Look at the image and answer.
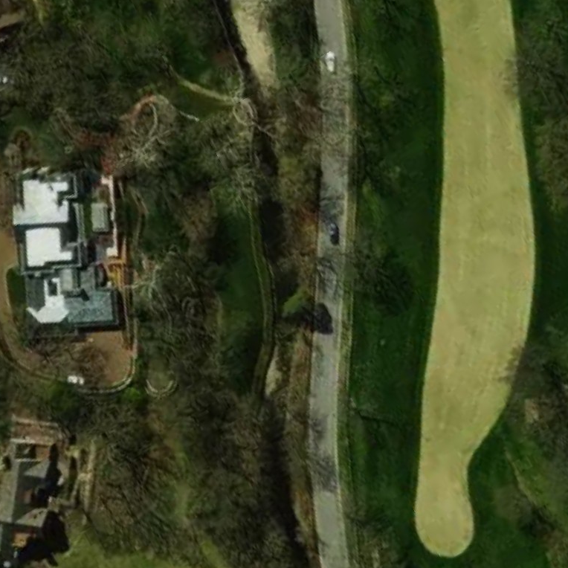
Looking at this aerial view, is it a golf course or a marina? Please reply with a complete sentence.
The picture captures a golf course.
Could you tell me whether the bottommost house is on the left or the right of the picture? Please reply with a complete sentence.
The bottommost house is on the left side of the image.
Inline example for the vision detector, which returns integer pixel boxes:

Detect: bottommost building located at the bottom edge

[0,458,51,561]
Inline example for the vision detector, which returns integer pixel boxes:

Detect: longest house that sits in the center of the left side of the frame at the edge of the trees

[14,175,120,336]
